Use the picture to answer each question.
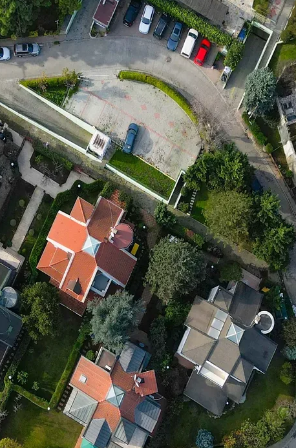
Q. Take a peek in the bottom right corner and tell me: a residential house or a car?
residential house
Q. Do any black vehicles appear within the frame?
Yes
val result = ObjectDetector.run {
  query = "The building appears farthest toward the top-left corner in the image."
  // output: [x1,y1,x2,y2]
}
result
[92,0,118,32]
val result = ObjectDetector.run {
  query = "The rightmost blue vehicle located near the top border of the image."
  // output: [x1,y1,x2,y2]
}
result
[166,21,184,50]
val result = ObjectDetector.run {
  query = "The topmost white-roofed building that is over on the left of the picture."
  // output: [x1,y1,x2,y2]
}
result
[87,130,110,162]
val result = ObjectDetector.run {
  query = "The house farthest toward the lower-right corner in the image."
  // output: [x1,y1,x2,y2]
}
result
[176,282,279,415]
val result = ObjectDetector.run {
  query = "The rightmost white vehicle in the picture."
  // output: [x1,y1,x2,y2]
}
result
[179,29,198,60]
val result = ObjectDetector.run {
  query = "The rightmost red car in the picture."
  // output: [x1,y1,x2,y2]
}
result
[192,38,211,68]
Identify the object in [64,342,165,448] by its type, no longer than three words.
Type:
house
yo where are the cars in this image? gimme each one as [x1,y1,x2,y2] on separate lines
[152,12,170,40]
[166,21,184,50]
[122,122,138,152]
[137,3,156,34]
[192,38,211,68]
[179,29,198,60]
[0,45,11,61]
[11,41,41,59]
[121,0,142,27]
